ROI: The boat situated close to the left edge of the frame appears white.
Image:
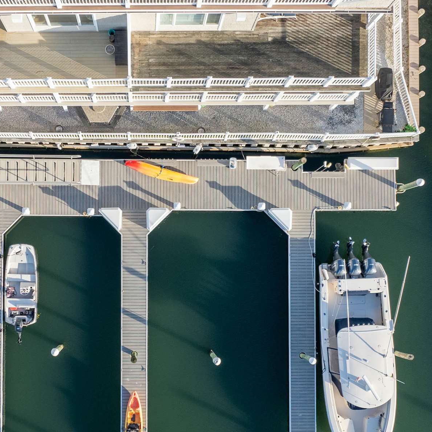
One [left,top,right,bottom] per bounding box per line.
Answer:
[4,244,38,341]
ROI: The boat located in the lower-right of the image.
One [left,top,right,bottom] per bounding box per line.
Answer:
[318,238,410,432]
